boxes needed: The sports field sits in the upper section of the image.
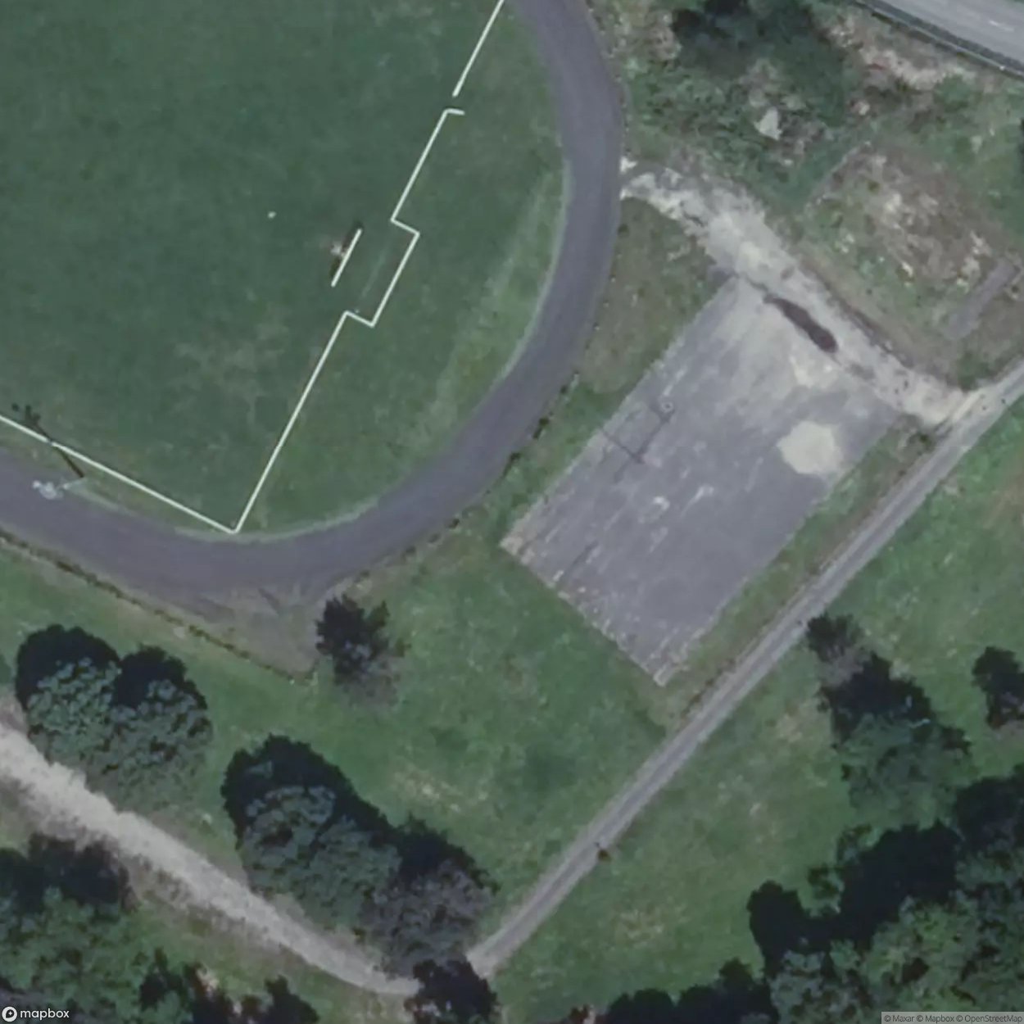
[0,0,501,530]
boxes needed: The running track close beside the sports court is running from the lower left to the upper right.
[0,0,621,619]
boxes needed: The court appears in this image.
[502,277,897,687]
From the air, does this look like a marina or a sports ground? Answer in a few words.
sports ground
